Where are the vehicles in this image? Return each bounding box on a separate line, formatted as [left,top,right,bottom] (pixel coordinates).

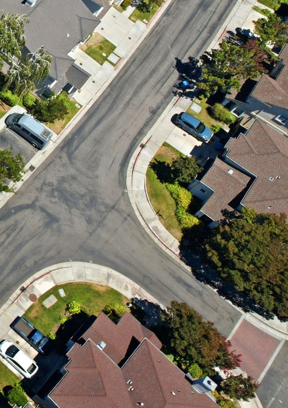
[0,338,40,381]
[5,309,54,360]
[5,115,54,150]
[171,111,212,141]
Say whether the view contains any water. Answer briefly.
No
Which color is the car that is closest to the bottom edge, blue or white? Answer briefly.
white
